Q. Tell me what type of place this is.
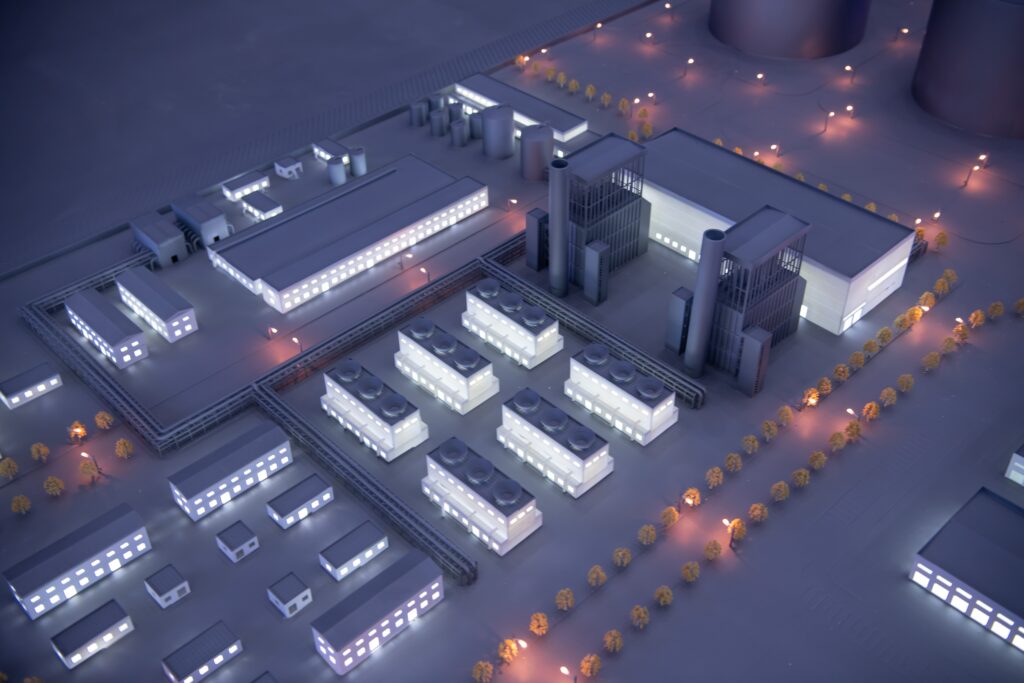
industrial area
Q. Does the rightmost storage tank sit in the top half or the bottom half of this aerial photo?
top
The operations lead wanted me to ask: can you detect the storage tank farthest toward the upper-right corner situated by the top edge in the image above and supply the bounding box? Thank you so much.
[912,0,1024,141]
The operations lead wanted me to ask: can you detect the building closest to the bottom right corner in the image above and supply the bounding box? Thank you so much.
[909,484,1024,650]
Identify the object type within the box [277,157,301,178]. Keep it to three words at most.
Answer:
shed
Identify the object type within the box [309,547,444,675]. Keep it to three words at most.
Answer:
building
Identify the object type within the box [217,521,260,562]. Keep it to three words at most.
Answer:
shed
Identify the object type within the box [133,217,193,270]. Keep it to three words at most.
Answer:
building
